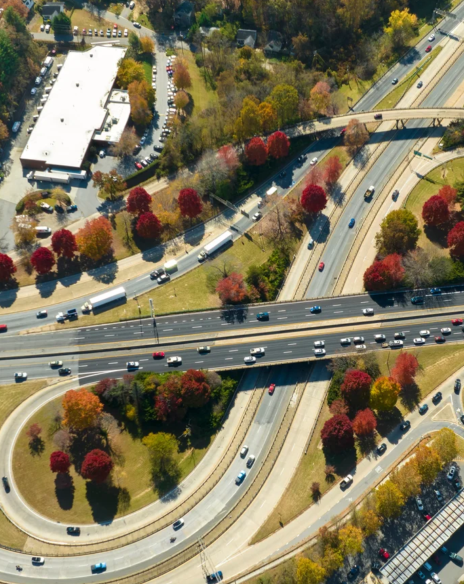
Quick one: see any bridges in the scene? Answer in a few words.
Yes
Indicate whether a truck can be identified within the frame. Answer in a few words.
Yes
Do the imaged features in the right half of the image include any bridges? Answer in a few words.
Yes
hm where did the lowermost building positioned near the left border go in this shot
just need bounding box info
[20,46,131,171]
